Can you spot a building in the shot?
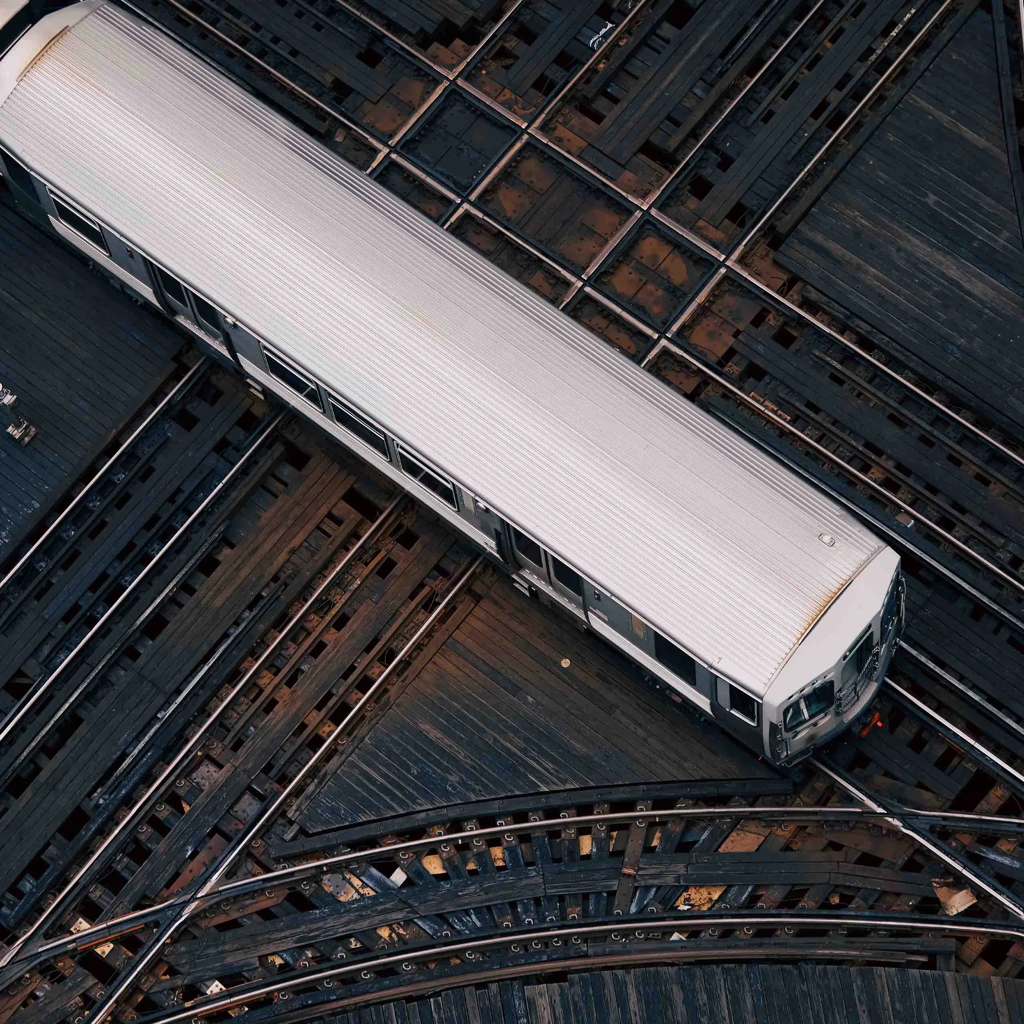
No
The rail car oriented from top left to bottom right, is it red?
No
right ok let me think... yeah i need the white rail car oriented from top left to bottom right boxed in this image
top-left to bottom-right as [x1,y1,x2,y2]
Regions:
[0,0,915,772]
